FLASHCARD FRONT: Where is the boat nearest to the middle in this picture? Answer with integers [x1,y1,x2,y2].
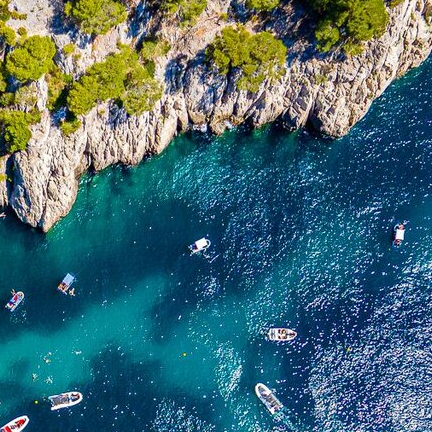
[188,238,210,255]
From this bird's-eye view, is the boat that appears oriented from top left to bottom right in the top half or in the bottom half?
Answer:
bottom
